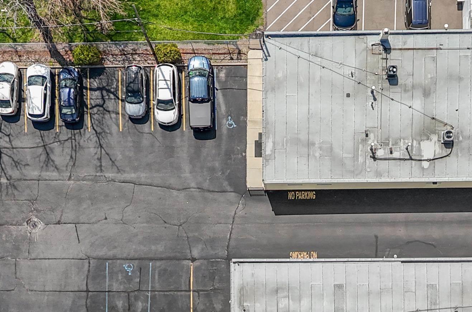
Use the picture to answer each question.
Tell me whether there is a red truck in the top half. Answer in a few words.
No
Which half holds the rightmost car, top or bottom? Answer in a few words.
top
